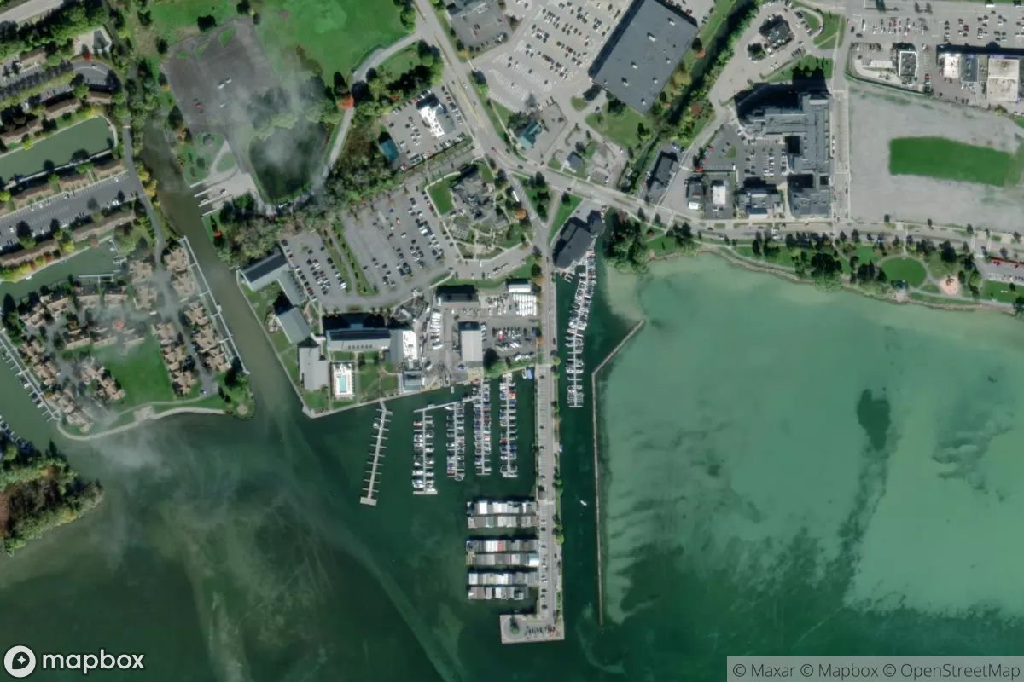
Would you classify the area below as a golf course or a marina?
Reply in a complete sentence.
This looks like a marina.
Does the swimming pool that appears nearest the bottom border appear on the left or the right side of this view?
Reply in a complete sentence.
The swimming pool that appears nearest the bottom border is on the left side of the image.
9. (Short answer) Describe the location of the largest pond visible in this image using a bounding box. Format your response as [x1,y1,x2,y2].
[248,120,333,203]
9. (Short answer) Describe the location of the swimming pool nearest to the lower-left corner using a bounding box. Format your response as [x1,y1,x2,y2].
[332,361,355,397]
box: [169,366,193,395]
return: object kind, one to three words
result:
house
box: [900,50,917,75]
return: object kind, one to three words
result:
building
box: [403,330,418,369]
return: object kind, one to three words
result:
building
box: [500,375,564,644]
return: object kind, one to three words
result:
pier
